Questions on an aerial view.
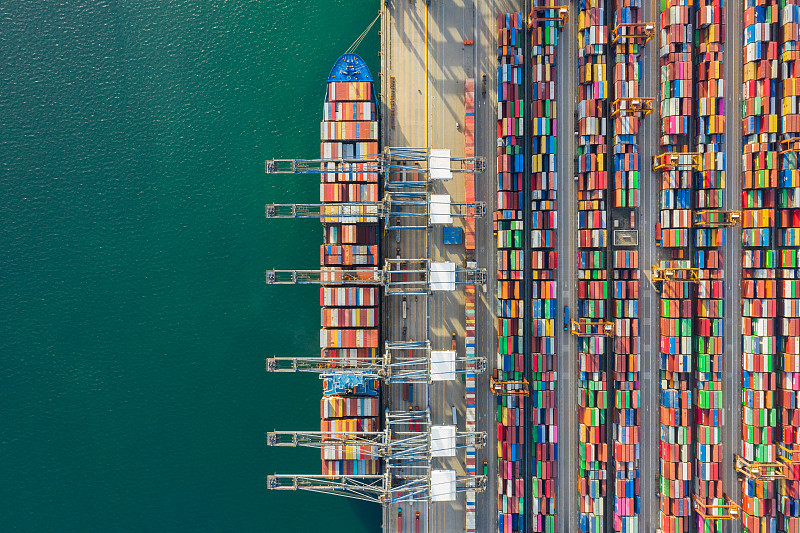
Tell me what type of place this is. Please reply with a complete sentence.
The picture captures a port.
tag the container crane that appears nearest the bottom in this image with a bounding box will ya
[689,492,743,519]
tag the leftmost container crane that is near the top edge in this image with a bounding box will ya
[523,5,570,34]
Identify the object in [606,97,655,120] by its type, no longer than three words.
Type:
container crane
